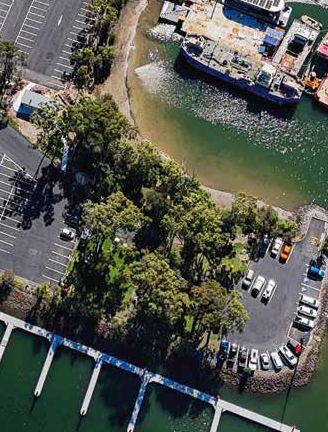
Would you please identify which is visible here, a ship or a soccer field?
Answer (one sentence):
Visible in the photo is a ship.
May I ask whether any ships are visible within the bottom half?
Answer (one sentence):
No, no ship appears within the bottom half.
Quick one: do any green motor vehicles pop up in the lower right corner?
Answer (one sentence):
No, I can find no green motor vehicle in the lower right corner.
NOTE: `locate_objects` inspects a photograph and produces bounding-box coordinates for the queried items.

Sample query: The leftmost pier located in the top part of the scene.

[159,1,189,25]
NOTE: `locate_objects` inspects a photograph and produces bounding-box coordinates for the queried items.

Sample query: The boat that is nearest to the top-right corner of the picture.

[296,15,321,29]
